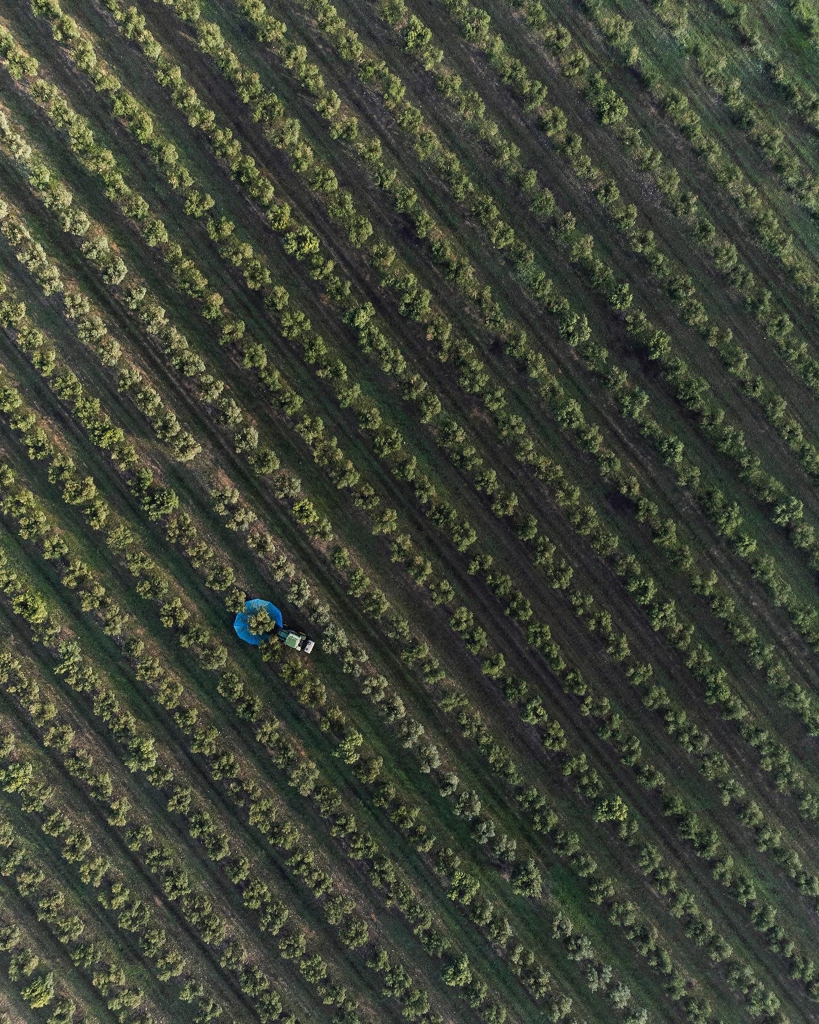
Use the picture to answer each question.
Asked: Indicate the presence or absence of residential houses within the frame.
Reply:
No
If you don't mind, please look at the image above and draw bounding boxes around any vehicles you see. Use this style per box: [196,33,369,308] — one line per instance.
[275,624,315,654]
